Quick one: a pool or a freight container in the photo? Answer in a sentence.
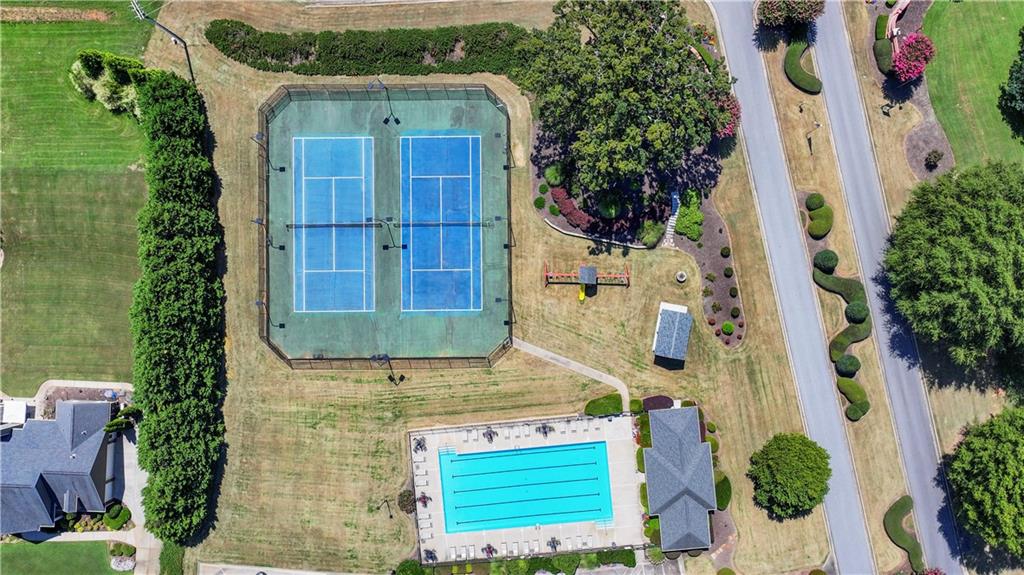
I can see a pool in this picture.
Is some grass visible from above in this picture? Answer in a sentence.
Yes, some grass is visible.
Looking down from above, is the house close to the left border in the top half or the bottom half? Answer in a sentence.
The bottom half of the photo is where the house close to the left border is.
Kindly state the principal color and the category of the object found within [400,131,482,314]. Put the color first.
blue tennis court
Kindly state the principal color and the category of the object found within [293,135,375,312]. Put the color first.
blue tennis court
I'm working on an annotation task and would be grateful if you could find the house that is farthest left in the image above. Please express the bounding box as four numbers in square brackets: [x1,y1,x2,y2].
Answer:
[0,400,119,533]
